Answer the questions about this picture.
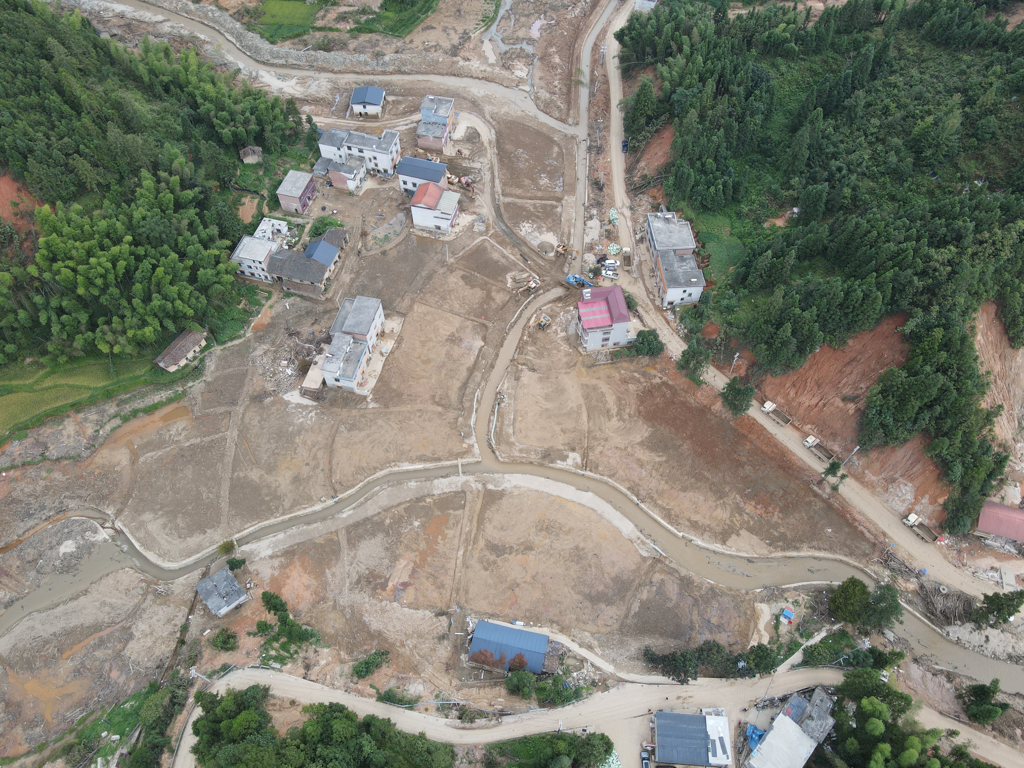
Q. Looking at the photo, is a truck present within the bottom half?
Yes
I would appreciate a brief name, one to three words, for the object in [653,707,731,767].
building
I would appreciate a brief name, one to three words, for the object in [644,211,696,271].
house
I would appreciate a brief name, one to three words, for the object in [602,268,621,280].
vehicle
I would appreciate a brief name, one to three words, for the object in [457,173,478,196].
work vehicle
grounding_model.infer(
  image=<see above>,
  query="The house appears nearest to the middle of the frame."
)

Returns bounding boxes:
[576,286,635,347]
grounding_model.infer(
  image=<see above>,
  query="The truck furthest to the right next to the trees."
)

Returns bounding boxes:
[903,507,948,543]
